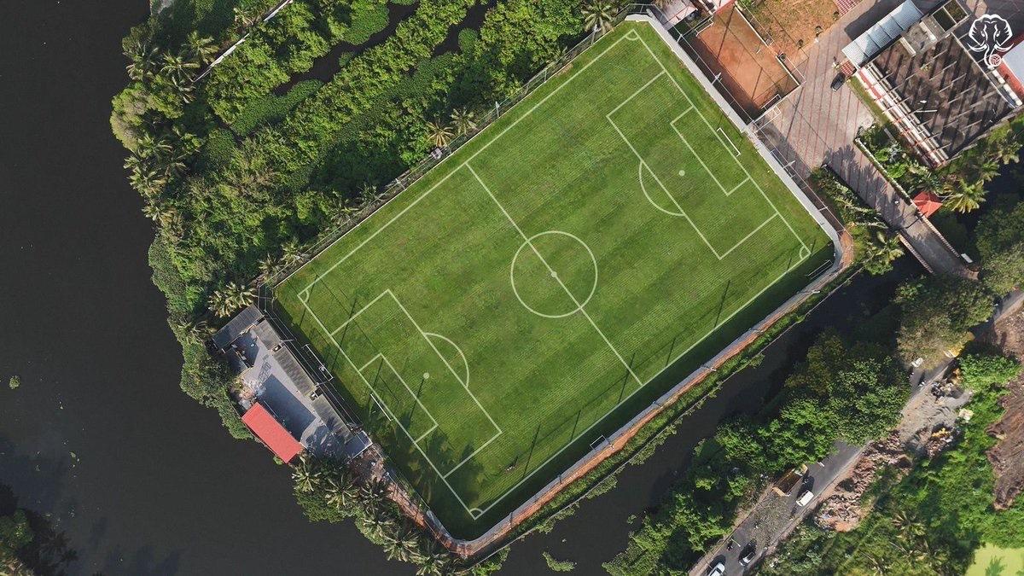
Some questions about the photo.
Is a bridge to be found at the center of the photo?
No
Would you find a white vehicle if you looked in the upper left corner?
No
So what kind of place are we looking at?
sports ground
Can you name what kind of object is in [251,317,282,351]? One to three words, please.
building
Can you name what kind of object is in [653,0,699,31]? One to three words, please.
house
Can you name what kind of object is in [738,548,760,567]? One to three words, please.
vehicle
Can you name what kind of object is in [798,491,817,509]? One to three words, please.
vehicle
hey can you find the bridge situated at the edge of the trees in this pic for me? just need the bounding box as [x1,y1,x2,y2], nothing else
[898,211,996,300]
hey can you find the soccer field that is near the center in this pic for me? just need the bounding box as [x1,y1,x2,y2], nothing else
[271,16,840,541]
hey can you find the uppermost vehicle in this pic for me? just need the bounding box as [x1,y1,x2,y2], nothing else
[832,71,849,90]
